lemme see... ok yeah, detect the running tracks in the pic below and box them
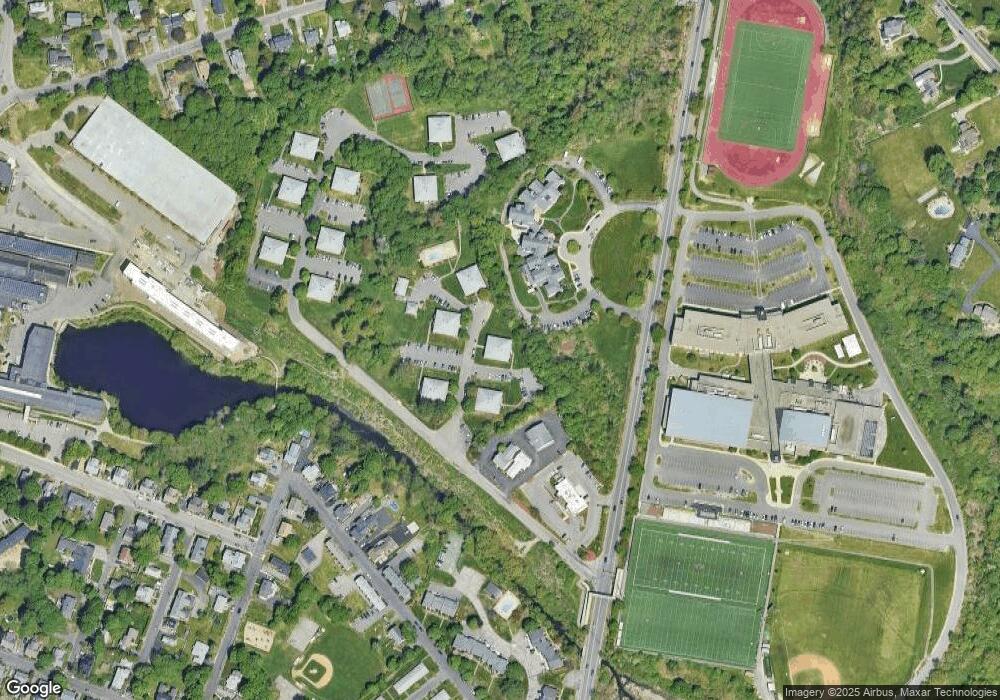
[703,0,832,187]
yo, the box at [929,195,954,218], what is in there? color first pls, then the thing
white swimming pool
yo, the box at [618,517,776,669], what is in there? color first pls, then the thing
green sports field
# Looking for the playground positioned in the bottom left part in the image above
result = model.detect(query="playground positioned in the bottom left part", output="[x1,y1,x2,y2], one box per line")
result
[244,622,274,651]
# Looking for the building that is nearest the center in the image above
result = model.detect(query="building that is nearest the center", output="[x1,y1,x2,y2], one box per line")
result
[483,335,513,361]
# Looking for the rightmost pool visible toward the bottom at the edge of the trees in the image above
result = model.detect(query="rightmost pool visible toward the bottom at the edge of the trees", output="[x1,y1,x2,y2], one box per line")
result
[494,592,521,620]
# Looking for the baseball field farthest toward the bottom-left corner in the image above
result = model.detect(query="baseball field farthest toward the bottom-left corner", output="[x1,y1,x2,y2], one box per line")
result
[292,653,336,700]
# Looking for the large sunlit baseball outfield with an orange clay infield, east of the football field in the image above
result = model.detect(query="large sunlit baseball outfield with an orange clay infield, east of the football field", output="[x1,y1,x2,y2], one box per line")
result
[763,548,927,700]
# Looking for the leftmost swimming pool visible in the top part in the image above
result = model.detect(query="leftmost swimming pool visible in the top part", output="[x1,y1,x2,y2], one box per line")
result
[420,240,457,267]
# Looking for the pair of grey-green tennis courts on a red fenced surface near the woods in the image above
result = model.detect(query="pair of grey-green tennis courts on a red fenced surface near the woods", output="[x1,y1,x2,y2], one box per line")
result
[366,75,413,120]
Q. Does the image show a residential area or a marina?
residential area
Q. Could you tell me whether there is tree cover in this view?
Yes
